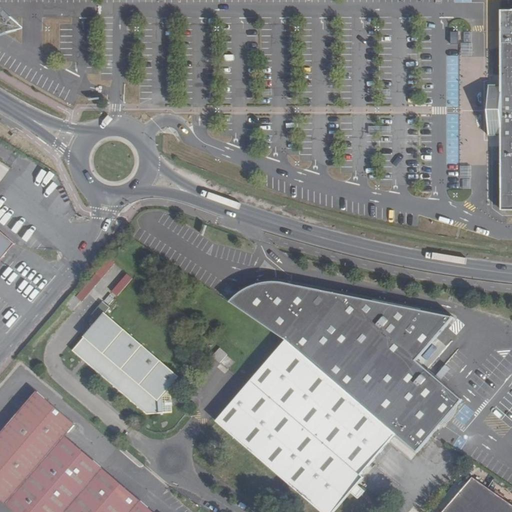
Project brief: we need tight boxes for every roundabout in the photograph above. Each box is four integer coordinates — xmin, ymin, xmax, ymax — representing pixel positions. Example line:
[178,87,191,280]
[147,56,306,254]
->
[90,136,138,186]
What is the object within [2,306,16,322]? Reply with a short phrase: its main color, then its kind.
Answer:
white vehicle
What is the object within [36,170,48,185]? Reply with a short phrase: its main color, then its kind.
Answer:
white vehicle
